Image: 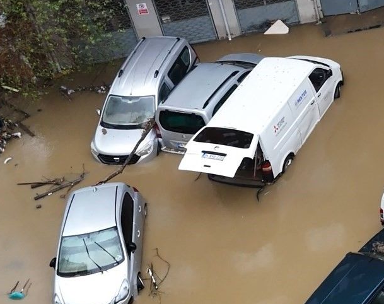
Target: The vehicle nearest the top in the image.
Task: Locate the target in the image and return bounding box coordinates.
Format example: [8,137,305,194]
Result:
[183,58,345,185]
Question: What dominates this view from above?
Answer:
water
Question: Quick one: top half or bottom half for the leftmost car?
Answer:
bottom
